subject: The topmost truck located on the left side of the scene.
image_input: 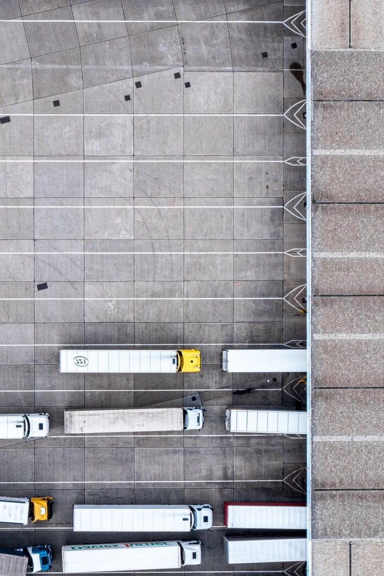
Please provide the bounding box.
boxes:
[58,349,202,374]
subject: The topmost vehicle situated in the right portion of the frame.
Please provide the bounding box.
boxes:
[223,350,307,372]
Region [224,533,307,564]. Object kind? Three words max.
truck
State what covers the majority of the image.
paved ground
